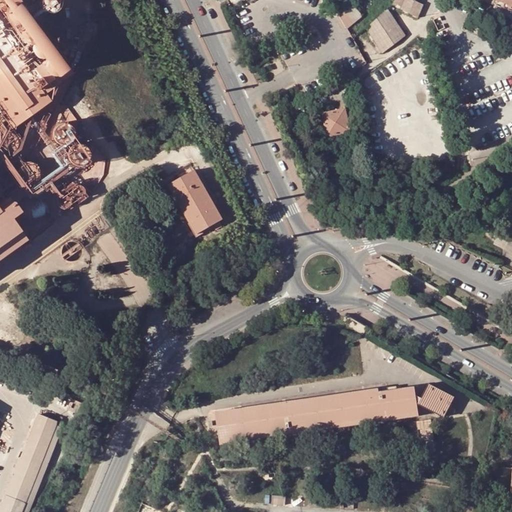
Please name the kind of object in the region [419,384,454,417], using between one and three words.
shed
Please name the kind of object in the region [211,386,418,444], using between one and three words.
building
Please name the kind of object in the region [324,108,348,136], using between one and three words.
house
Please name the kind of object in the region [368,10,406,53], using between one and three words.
barn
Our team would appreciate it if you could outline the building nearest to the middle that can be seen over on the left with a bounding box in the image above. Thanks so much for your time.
[172,162,222,237]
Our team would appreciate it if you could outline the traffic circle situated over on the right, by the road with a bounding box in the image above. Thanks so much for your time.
[284,236,360,310]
